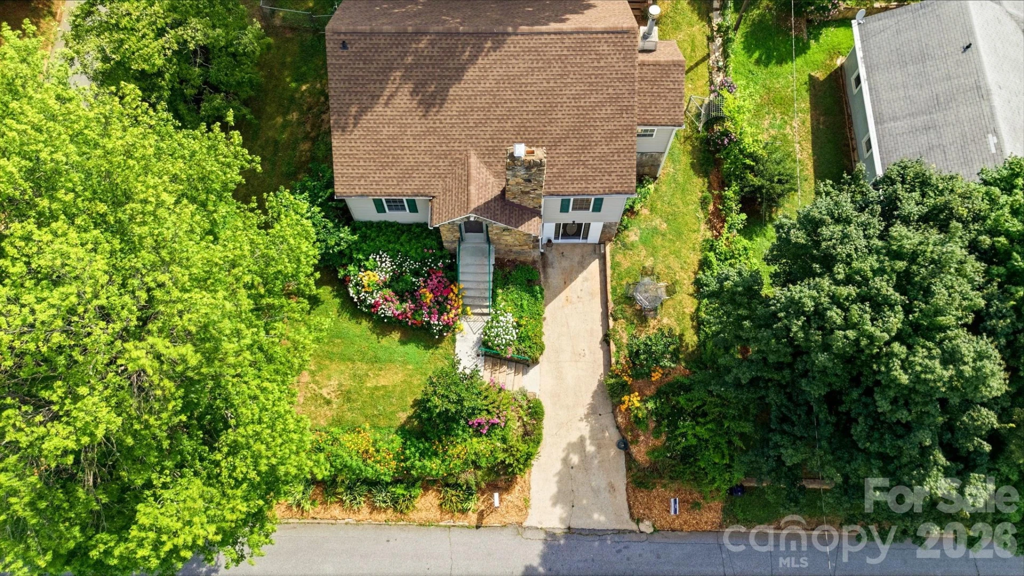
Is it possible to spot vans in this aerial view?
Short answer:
No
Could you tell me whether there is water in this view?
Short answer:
No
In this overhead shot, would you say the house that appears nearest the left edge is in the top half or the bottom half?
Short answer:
top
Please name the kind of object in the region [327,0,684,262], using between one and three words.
house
